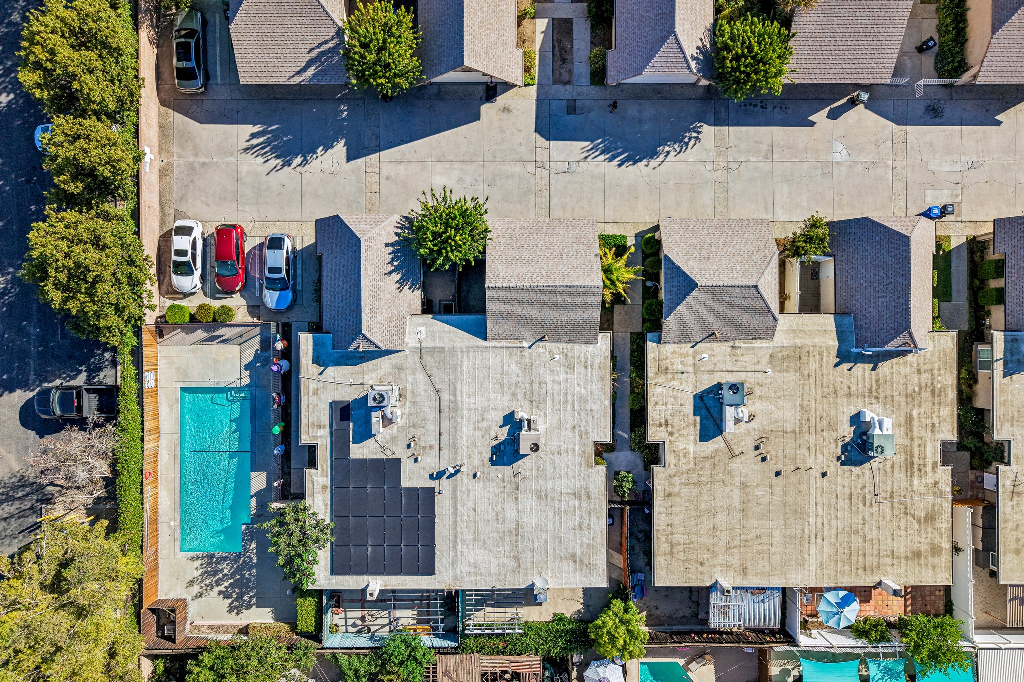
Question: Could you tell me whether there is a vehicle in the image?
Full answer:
Yes, this view includes a vehicle.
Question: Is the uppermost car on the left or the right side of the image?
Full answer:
The uppermost car appears in the left half of the scene.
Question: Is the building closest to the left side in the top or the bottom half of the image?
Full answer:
The top half of the photo is where the building closest to the left side is.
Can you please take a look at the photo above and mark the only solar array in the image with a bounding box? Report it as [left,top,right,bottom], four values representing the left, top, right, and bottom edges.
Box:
[332,401,437,575]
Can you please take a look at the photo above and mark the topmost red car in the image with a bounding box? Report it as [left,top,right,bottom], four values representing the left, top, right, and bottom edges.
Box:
[210,224,248,293]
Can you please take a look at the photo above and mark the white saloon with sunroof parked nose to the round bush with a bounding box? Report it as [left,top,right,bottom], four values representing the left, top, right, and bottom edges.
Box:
[166,220,206,296]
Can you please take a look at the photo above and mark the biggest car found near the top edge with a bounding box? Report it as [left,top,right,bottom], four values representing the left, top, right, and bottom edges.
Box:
[168,11,209,94]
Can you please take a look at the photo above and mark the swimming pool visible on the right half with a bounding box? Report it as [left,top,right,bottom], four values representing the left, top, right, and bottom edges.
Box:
[640,662,689,682]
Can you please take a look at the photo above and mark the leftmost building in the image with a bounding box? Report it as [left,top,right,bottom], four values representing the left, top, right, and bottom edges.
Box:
[228,0,353,85]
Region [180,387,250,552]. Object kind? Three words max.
swimming pool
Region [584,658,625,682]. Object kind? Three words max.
umbrella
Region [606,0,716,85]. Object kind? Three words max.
building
